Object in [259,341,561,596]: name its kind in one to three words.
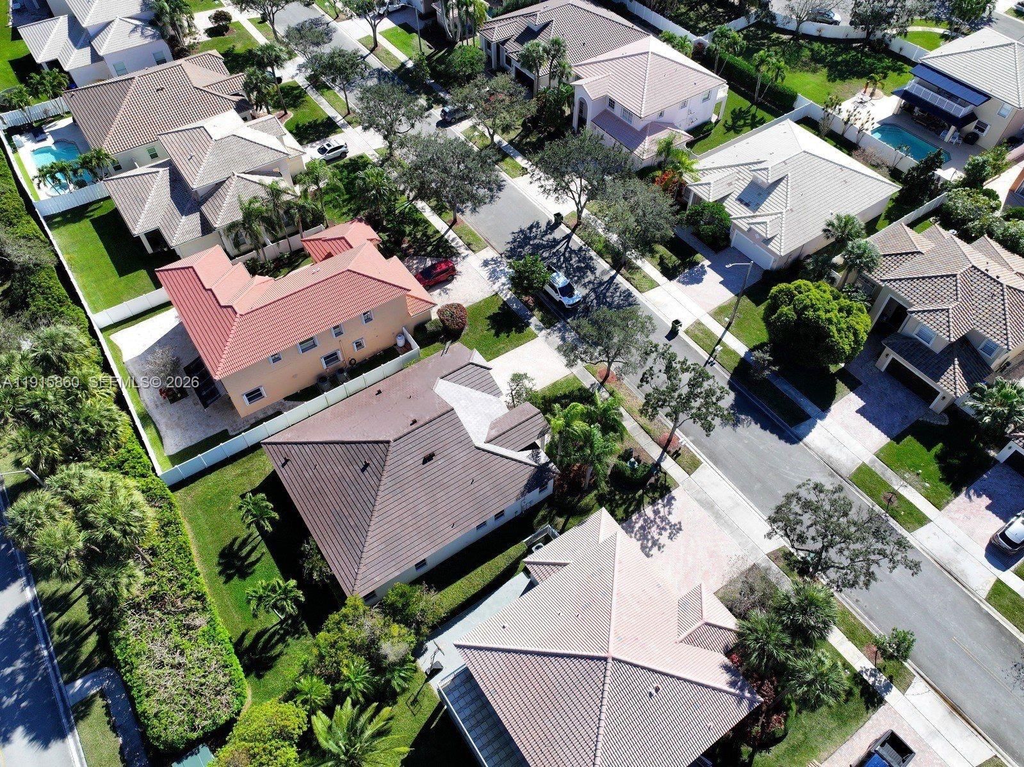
house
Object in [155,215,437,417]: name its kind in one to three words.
house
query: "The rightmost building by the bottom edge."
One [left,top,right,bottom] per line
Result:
[452,508,764,767]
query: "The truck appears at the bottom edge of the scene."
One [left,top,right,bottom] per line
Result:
[843,723,917,767]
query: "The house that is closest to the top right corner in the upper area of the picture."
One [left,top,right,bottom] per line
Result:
[881,27,1024,154]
